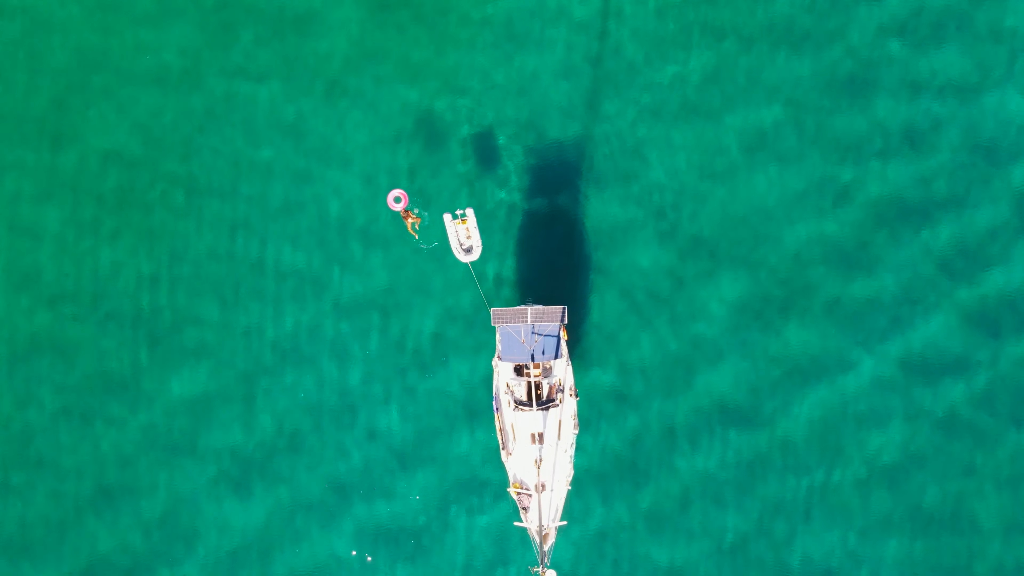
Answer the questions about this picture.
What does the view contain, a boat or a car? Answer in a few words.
boat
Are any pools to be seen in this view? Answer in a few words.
No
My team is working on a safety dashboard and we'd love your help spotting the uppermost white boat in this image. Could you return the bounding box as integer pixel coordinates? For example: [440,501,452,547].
[443,205,481,263]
